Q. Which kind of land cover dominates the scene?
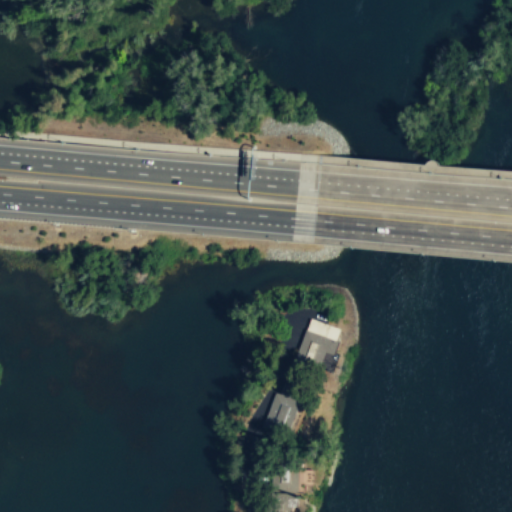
water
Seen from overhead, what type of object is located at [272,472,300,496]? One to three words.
house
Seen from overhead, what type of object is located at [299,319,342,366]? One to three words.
house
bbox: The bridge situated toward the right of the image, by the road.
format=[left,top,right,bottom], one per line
[294,154,512,262]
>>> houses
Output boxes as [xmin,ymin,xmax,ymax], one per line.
[274,496,302,512]
[264,394,298,436]
[272,472,300,496]
[299,319,342,366]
